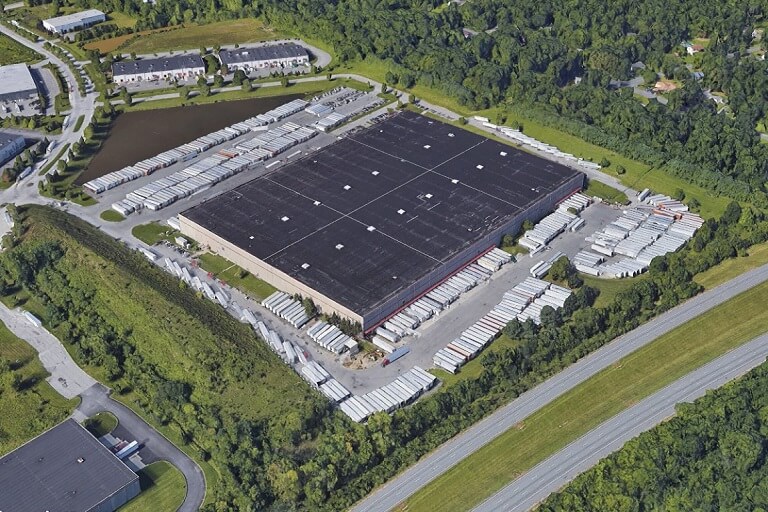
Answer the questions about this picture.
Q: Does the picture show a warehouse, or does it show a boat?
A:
warehouse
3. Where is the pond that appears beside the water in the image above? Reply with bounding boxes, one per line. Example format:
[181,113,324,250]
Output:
[77,90,320,190]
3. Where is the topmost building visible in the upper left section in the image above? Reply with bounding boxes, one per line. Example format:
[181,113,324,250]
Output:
[42,9,108,33]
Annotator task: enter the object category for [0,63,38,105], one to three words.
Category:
building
